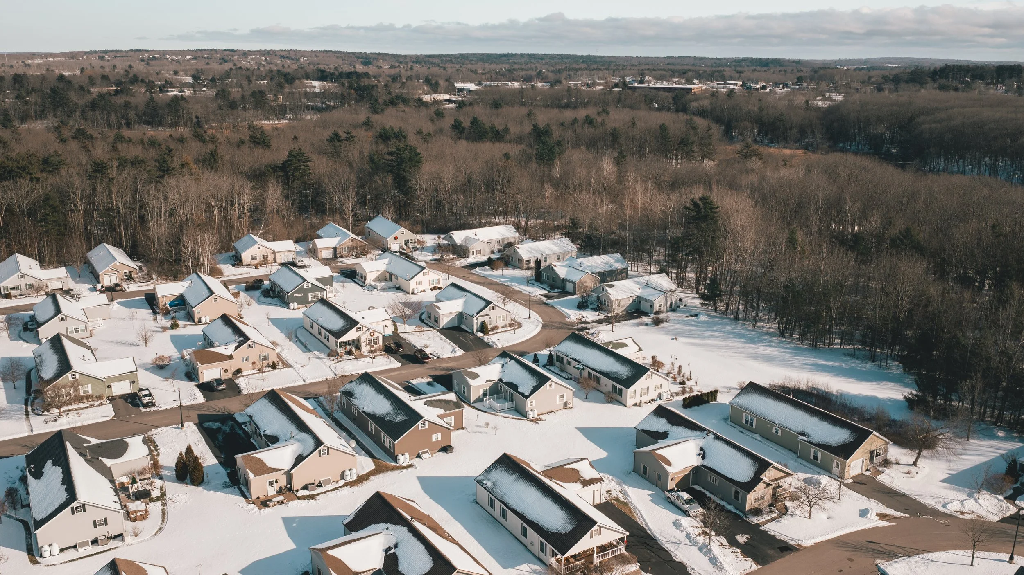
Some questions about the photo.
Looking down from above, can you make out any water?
No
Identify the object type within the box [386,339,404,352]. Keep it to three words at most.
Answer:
vehicle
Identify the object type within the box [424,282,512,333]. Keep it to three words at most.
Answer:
house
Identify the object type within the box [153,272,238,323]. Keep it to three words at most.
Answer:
house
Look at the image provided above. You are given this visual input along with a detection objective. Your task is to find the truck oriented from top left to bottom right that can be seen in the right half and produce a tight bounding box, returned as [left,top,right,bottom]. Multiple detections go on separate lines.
[664,490,703,517]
